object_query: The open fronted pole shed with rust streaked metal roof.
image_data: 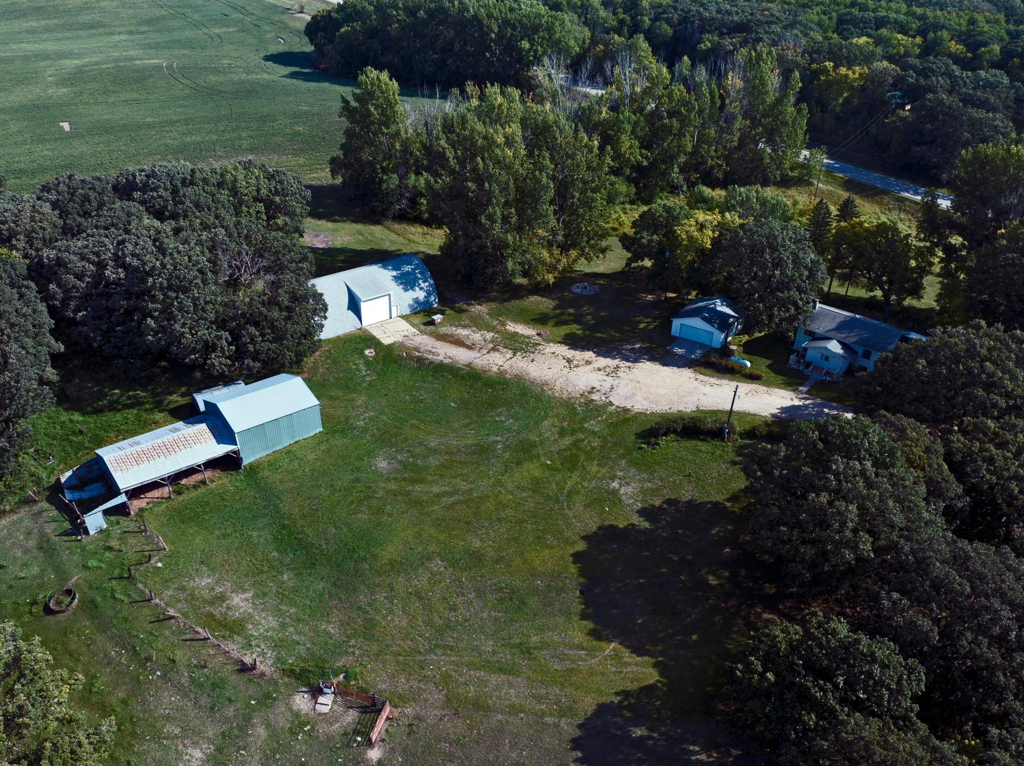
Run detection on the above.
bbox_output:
[102,411,241,510]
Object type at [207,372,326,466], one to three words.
shed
